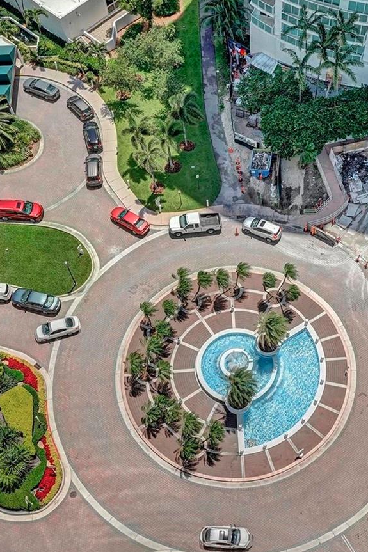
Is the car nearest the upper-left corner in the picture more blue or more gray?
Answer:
gray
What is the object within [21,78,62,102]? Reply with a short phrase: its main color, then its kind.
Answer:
gray car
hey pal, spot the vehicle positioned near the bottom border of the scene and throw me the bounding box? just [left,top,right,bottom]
[199,524,251,552]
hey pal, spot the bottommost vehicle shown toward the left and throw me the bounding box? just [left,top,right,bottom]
[33,318,83,345]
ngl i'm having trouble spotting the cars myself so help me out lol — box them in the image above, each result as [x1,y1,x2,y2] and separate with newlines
[109,208,151,236]
[33,318,83,345]
[21,78,62,102]
[0,283,13,304]
[0,198,42,221]
[240,217,285,244]
[199,524,251,552]
[63,93,97,122]
[11,290,61,316]
[81,119,105,154]
[83,154,104,190]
